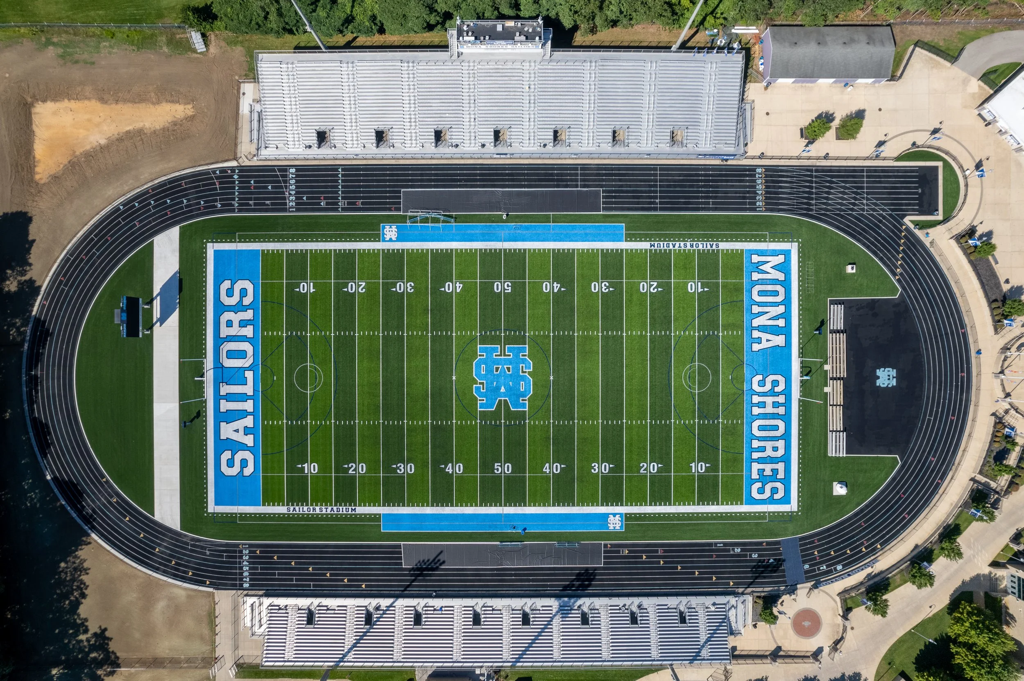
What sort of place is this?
sports ground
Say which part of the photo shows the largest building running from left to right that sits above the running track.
top right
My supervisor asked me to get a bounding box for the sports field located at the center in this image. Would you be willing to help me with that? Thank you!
[75,214,926,542]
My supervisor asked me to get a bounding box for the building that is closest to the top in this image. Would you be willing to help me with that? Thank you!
[762,25,897,83]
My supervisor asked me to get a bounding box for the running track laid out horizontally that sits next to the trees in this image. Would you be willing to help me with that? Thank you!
[27,165,973,590]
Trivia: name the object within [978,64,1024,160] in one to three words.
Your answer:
building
